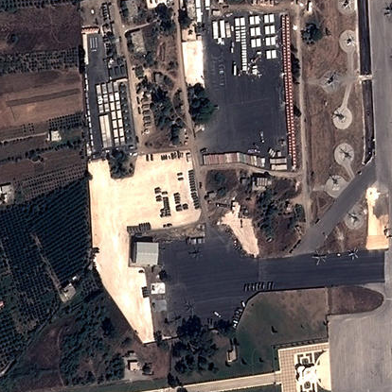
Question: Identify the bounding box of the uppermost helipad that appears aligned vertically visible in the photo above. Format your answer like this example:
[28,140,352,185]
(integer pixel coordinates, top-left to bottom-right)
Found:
[340,32,356,74]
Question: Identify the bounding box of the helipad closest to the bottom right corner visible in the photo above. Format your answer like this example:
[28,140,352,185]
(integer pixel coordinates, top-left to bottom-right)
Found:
[345,207,363,228]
